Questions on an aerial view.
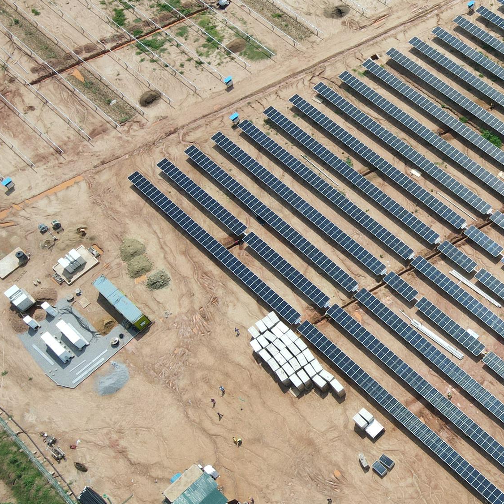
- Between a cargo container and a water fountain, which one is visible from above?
cargo container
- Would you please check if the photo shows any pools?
No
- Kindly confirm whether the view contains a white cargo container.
Yes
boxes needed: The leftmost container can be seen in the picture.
[4,284,34,310]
